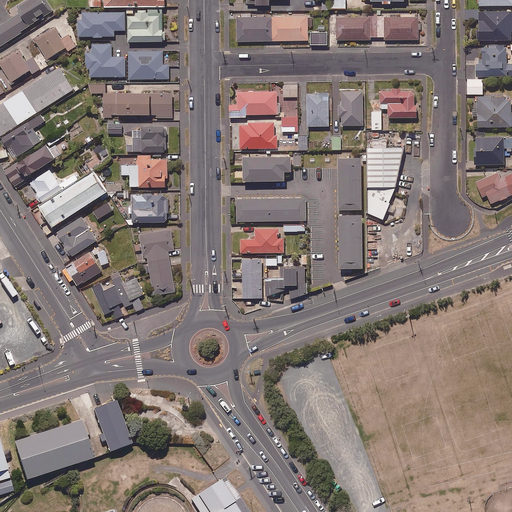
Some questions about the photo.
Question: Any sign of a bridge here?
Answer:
No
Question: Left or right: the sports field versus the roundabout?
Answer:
on the right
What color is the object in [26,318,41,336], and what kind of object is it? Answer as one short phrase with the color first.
white vehicle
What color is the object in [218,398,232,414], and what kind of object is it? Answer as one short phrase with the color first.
white vehicle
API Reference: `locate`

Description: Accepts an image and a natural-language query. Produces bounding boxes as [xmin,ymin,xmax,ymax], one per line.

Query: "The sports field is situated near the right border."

[332,288,512,512]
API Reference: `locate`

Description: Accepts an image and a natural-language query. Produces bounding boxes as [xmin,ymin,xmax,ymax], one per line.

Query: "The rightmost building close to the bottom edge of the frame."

[192,482,260,512]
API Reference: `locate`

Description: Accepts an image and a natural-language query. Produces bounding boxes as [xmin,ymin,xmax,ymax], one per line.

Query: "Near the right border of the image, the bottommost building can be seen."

[477,170,512,208]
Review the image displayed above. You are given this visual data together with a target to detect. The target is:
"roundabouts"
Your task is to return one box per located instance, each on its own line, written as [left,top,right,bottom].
[190,328,229,367]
